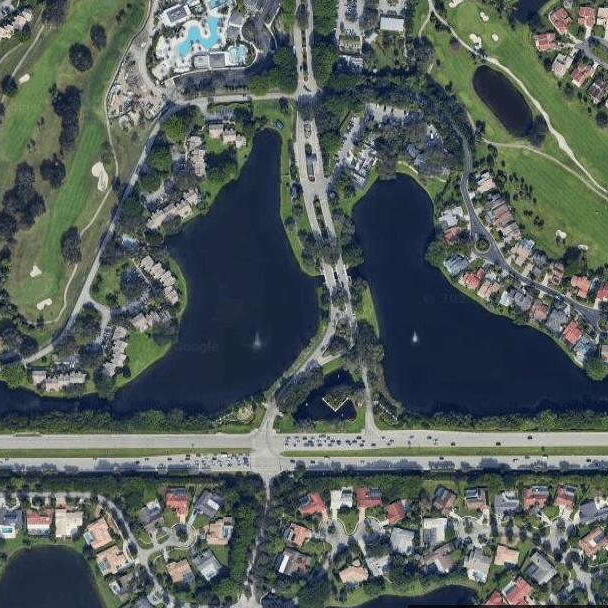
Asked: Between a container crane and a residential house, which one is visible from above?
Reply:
residential house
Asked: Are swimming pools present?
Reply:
Yes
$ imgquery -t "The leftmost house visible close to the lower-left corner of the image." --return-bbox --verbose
[0,505,22,528]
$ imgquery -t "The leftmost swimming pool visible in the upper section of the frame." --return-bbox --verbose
[118,230,141,250]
